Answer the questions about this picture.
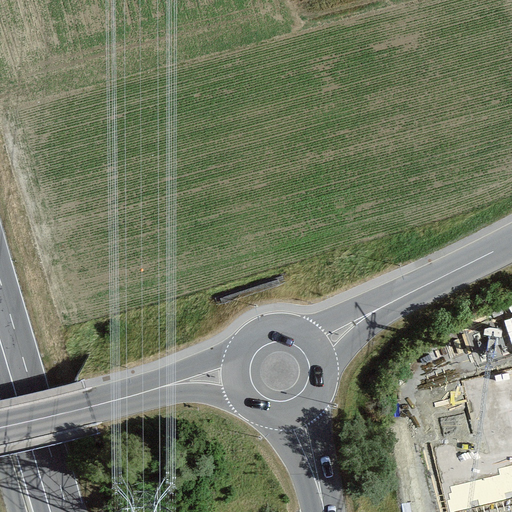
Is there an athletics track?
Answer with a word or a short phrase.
No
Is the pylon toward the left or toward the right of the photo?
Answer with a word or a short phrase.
left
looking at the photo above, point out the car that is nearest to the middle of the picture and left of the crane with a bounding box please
[271,332,294,347]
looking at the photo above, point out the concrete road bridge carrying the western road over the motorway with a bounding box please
[0,354,102,456]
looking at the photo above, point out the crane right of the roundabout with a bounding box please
[468,328,498,512]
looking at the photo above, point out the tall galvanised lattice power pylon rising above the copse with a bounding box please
[114,468,173,512]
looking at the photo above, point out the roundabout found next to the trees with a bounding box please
[222,314,338,430]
